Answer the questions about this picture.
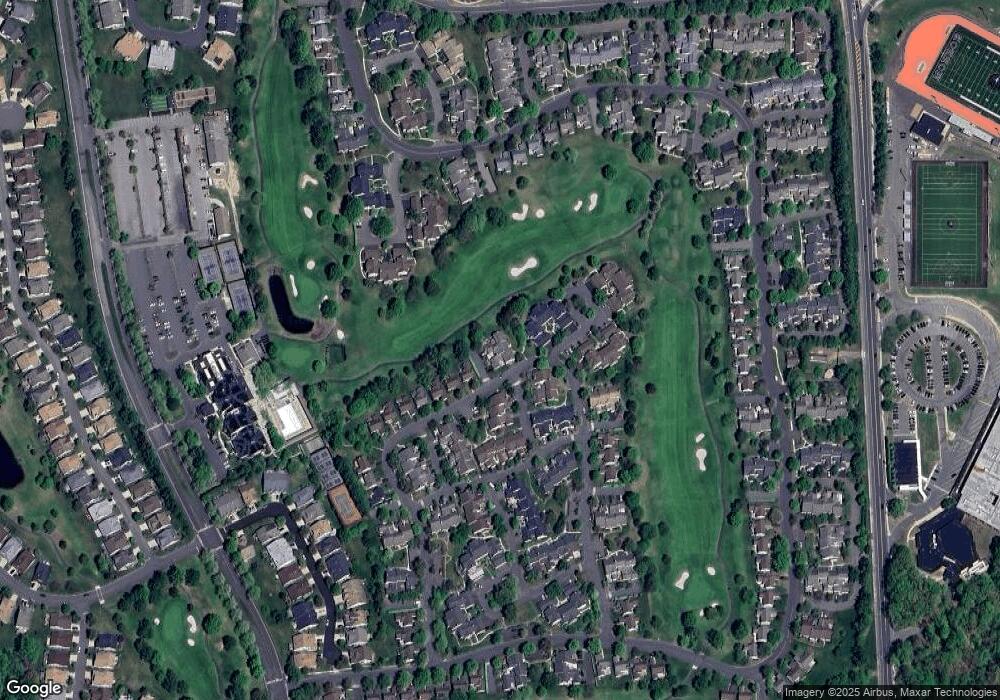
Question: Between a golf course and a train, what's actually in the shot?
golf course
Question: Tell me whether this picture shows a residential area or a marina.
residential area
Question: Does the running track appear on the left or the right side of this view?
right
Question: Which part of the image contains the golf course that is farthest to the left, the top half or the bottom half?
bottom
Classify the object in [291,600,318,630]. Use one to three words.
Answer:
house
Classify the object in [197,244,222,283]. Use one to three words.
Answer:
tennis court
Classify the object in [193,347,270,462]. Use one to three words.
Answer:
building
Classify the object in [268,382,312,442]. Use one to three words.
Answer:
swimming pool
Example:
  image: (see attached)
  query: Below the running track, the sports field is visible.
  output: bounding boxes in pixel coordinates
[912,160,988,287]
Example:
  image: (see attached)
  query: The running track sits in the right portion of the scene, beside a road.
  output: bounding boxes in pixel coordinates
[896,15,1000,137]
